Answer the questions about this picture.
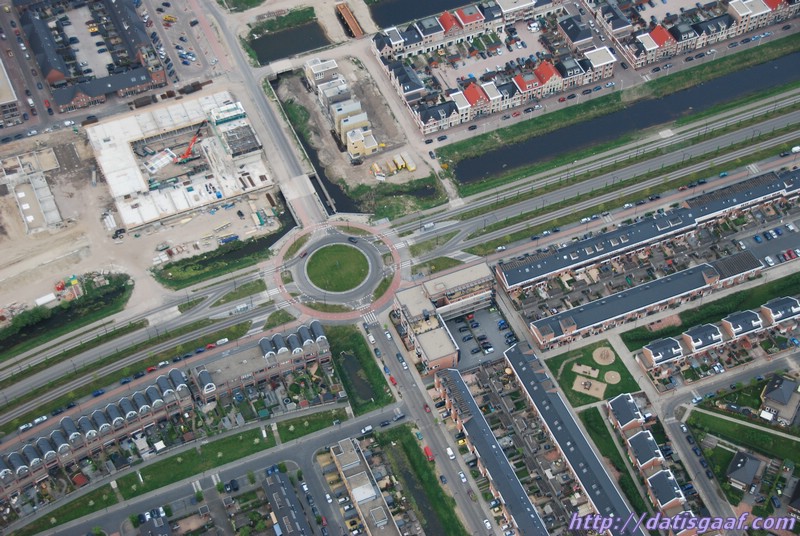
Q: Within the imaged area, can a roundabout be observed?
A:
Yes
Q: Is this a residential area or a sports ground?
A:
residential area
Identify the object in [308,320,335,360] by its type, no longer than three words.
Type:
house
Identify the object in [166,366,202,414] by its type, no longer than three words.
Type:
house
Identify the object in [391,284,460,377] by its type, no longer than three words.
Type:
building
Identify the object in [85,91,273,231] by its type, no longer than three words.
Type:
building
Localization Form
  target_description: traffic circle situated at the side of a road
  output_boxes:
[275,222,401,319]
